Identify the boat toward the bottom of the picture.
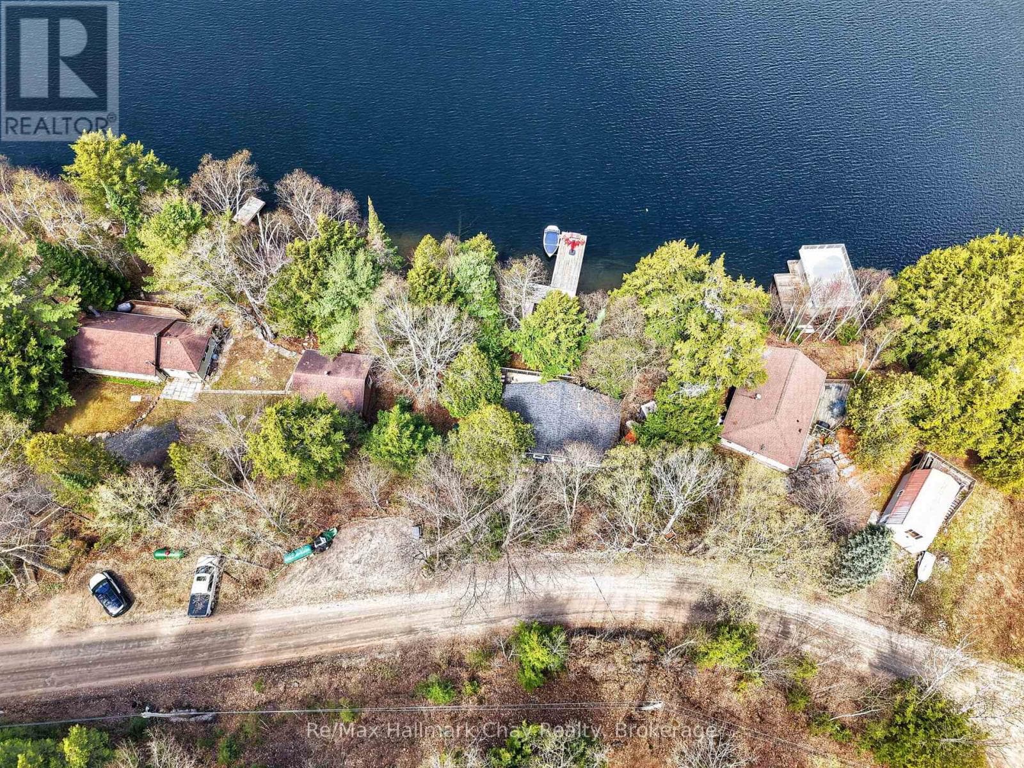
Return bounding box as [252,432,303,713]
[912,549,942,599]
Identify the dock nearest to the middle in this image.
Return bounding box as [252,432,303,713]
[552,232,588,295]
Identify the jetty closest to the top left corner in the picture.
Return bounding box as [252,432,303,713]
[233,197,269,229]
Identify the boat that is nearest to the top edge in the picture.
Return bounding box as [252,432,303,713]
[543,221,559,260]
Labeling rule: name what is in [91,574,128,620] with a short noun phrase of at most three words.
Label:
car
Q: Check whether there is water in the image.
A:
Yes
